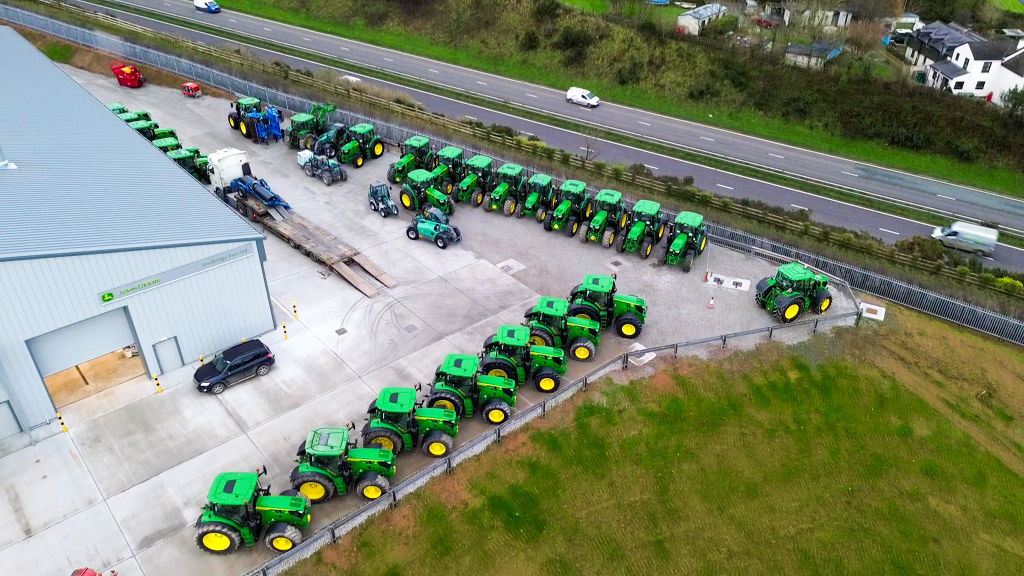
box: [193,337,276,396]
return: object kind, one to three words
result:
car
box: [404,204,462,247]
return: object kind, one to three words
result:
work vehicle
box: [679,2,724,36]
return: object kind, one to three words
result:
house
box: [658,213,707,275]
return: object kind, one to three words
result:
work vehicle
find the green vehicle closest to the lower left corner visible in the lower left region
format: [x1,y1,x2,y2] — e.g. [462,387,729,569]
[189,468,316,554]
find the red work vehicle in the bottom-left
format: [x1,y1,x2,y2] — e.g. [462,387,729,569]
[70,551,112,576]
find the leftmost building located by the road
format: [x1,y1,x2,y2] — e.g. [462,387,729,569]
[0,13,277,440]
